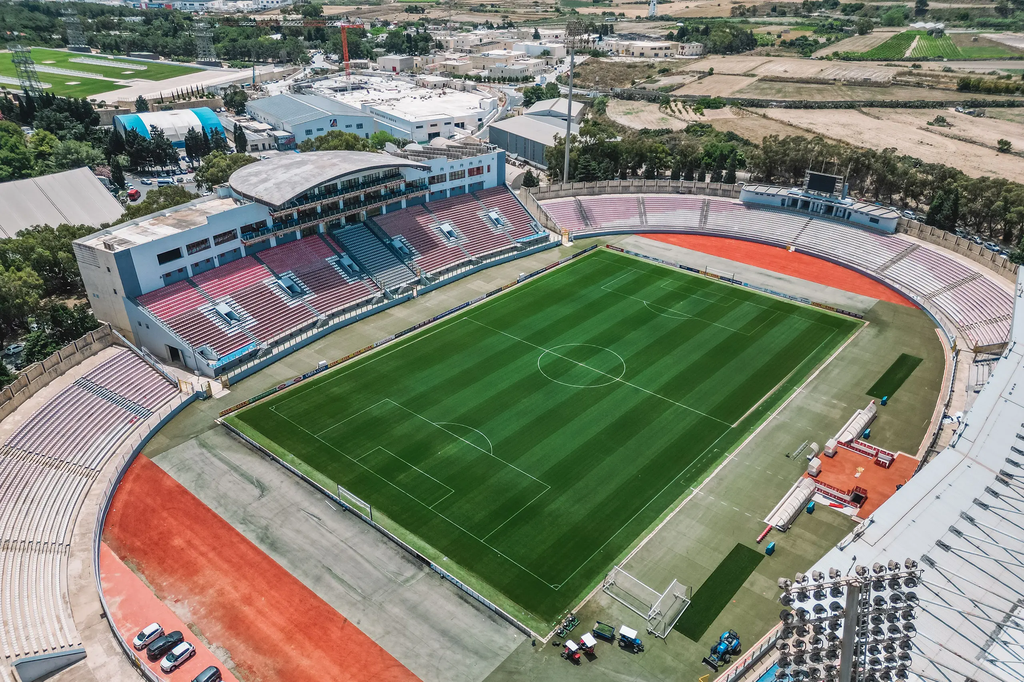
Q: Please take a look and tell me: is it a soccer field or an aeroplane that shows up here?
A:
soccer field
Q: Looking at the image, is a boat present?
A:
No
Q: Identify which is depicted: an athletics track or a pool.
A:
athletics track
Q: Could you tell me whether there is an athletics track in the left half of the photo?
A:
Yes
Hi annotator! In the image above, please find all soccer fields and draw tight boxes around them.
[237,250,859,625]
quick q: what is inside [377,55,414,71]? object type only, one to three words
building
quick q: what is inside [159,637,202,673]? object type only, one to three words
car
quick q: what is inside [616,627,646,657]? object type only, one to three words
work vehicle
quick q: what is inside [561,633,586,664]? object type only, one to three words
work vehicle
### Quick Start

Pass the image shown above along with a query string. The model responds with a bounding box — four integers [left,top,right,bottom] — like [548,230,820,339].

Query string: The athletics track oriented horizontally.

[637,234,922,310]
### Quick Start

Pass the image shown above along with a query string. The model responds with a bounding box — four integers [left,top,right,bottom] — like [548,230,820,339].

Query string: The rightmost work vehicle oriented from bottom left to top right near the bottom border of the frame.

[697,628,742,680]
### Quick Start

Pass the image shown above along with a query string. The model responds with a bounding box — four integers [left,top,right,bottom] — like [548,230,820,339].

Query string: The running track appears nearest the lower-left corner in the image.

[100,450,418,682]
